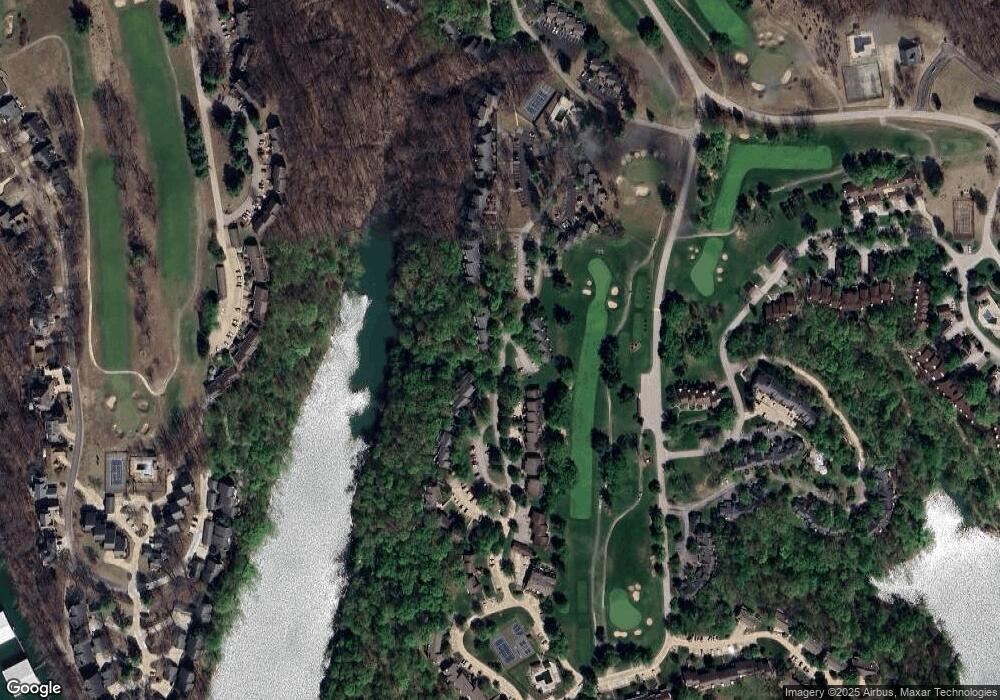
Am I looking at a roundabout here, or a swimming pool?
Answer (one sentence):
Looking from above, you can make out a swimming pool.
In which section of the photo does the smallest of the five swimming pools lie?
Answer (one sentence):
Look in the top portion of the view to spot the smallest of the five swimming pools.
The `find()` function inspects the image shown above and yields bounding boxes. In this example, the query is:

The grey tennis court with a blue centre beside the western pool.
[105,452,128,493]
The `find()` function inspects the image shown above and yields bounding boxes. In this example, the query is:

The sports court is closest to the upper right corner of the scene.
[842,61,885,103]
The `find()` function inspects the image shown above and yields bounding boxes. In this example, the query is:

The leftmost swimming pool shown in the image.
[131,458,155,482]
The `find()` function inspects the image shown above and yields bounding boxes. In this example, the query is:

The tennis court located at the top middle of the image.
[520,85,558,125]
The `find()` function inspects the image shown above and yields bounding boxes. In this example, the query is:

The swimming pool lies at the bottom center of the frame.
[530,660,561,692]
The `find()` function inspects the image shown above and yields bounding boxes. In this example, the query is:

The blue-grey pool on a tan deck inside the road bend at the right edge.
[979,294,1000,329]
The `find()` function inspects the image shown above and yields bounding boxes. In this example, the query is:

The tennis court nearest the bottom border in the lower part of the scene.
[490,620,535,671]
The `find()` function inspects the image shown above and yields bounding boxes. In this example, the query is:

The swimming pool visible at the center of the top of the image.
[551,97,573,124]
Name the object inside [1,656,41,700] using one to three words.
pier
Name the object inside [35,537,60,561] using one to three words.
house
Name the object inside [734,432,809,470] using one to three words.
building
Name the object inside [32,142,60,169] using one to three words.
house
